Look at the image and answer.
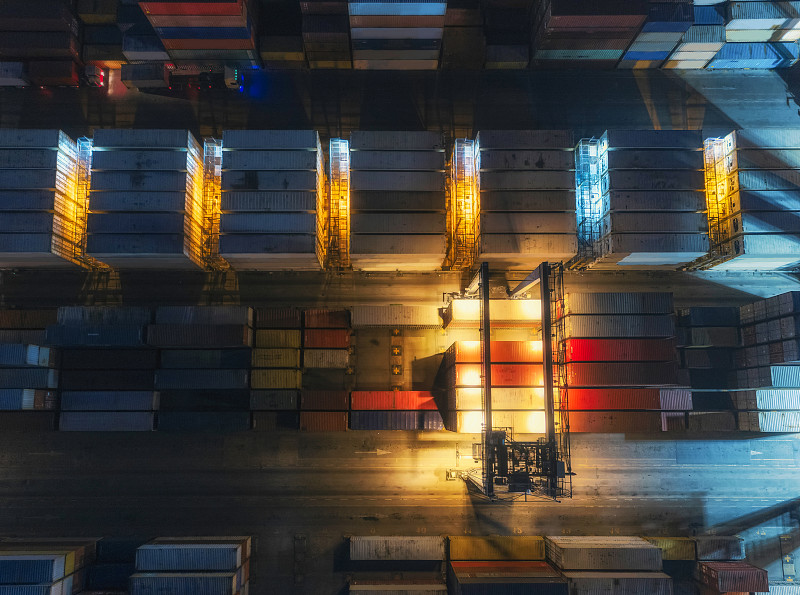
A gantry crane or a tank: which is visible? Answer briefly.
gantry crane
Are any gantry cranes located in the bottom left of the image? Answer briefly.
No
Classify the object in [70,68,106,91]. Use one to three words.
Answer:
truck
